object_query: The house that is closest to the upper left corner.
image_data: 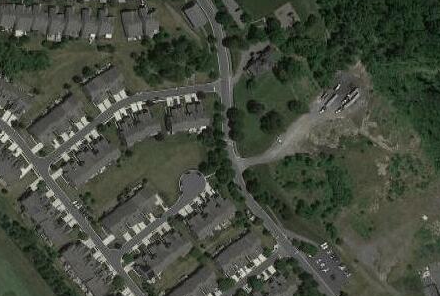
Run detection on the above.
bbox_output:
[0,2,16,28]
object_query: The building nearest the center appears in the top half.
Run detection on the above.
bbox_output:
[167,104,211,133]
